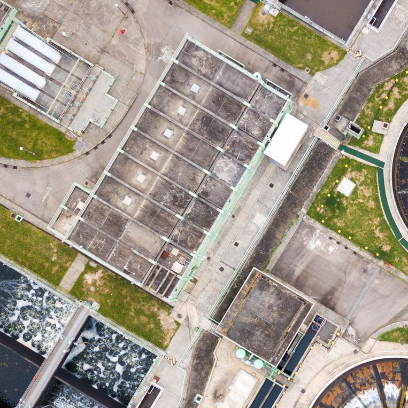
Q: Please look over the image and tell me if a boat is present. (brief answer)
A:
No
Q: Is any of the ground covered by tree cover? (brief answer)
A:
No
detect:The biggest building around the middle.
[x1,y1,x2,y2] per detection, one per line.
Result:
[63,36,295,303]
